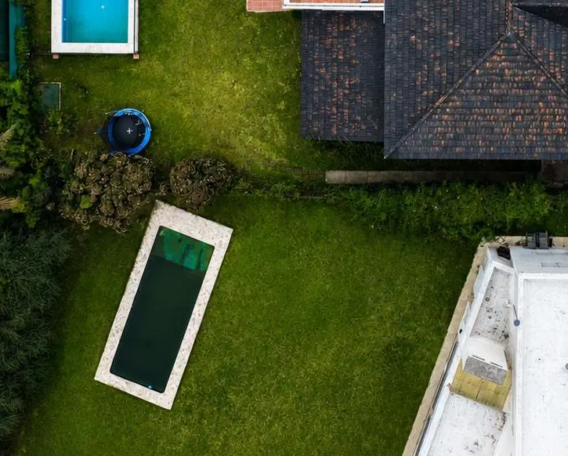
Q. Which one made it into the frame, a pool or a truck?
pool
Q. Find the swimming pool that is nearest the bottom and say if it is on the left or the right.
left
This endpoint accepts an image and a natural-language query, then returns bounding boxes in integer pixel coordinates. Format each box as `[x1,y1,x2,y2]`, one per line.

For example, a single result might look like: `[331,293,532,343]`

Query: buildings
[411,249,568,456]
[300,0,568,161]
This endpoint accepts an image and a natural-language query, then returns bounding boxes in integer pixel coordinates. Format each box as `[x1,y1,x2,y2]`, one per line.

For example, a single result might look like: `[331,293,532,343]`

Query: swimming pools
[95,202,233,409]
[52,0,141,61]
